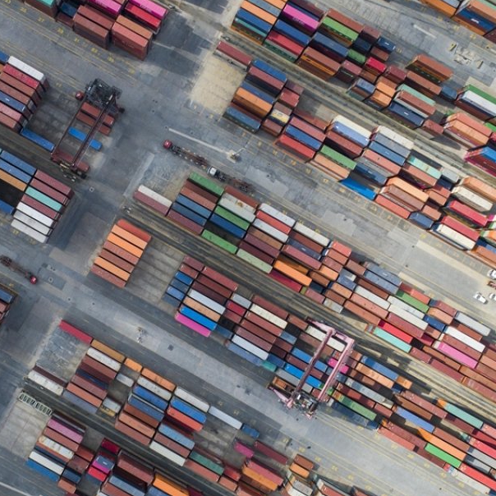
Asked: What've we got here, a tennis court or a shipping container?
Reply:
shipping container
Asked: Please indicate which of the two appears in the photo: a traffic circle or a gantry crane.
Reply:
gantry crane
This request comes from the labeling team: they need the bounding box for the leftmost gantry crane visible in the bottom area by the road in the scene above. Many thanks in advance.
[262,314,360,421]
